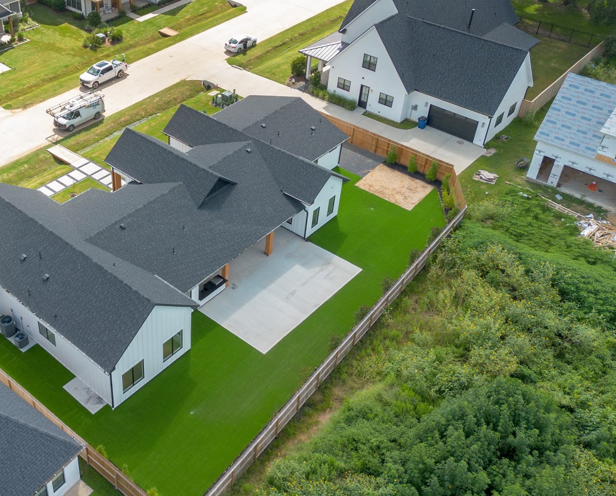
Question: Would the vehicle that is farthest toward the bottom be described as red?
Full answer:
No, the color of the vehicle that is farthest toward the bottom is white.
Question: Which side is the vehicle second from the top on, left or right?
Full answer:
The vehicle second from the top sits on the left side.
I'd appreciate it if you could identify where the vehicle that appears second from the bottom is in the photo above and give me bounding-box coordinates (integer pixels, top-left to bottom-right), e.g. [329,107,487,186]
[78,59,126,89]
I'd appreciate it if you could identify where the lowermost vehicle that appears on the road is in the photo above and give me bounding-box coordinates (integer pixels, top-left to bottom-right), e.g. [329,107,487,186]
[47,87,105,131]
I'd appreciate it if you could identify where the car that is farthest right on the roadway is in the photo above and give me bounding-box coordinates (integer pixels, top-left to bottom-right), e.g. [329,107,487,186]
[225,35,256,52]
